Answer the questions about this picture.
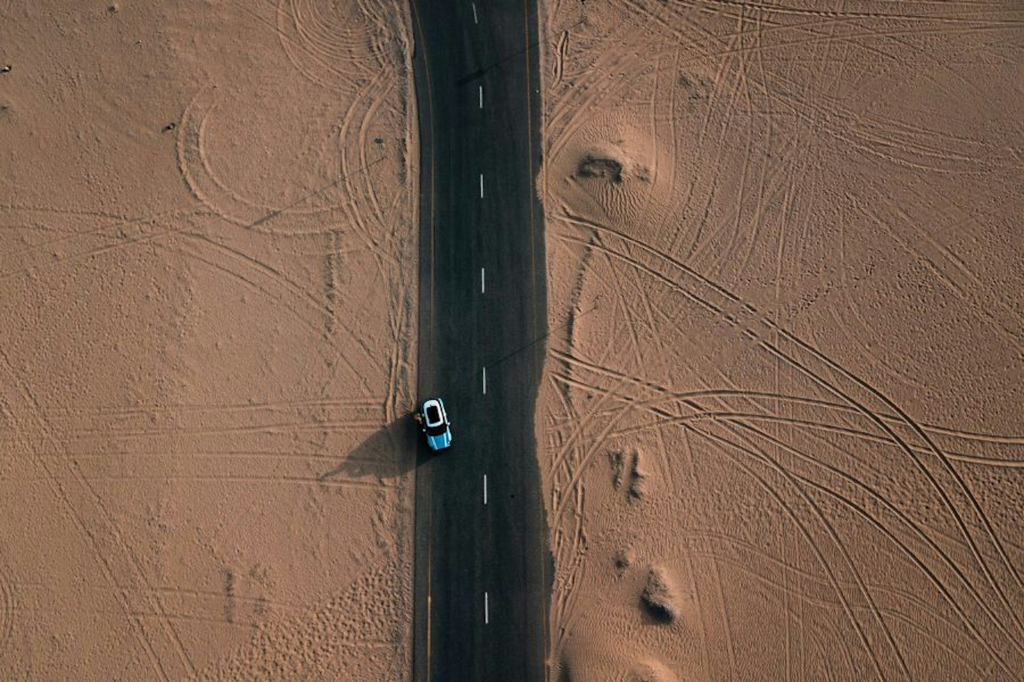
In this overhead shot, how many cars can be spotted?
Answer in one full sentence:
The picture shows just 1 car.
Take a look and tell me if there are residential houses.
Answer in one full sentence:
No, I can see no residential house in this picture.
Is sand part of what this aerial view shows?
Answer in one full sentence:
Yes, some sand is visible.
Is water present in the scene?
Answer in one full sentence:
No, there is no water in the image.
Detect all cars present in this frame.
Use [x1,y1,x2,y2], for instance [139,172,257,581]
[422,398,453,453]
